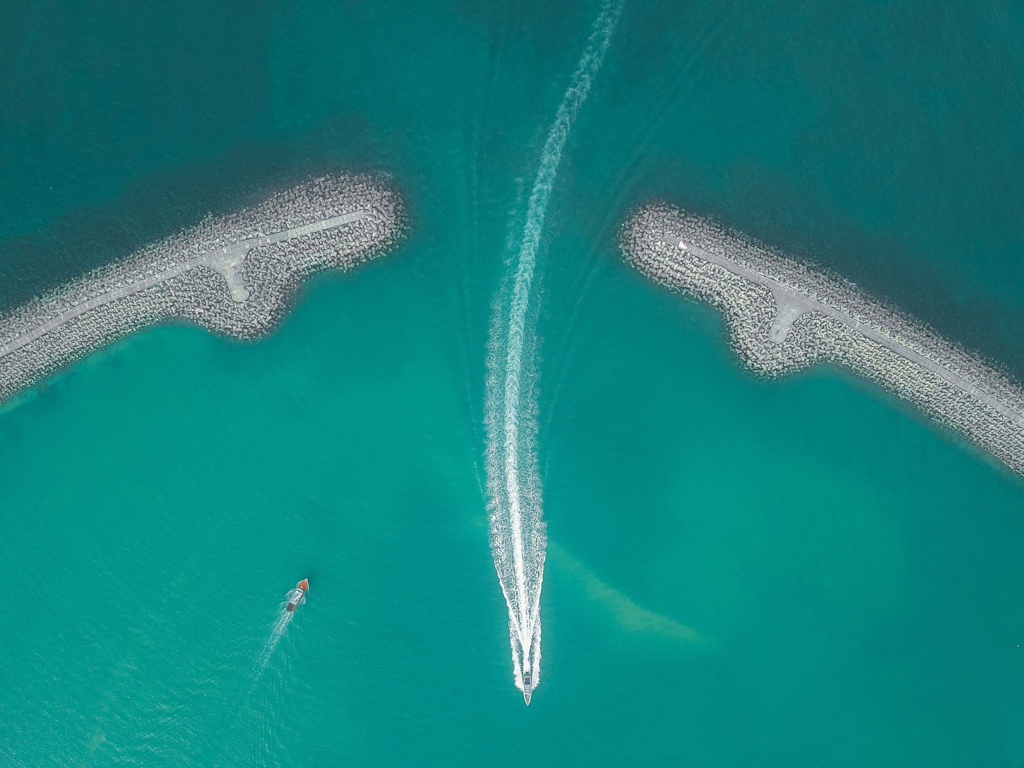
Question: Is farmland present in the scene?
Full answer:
No, the picture contains no farmland.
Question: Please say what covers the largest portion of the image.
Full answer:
Most of the picture is covered by water.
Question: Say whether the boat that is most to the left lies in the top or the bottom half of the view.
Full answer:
The bottom half of the photo is where the boat that is most to the left is.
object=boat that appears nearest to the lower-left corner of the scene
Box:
[287,578,309,613]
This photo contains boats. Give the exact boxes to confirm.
[524,673,531,706]
[287,578,309,613]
